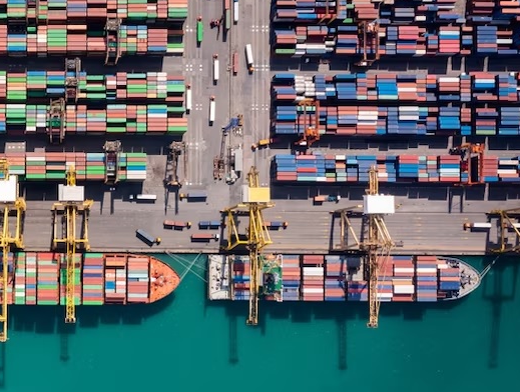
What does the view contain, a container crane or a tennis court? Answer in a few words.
container crane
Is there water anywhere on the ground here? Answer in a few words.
Yes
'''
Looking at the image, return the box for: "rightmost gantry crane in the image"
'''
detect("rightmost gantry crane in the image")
[477,206,520,262]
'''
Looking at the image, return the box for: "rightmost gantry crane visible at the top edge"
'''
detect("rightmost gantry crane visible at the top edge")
[347,19,381,70]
